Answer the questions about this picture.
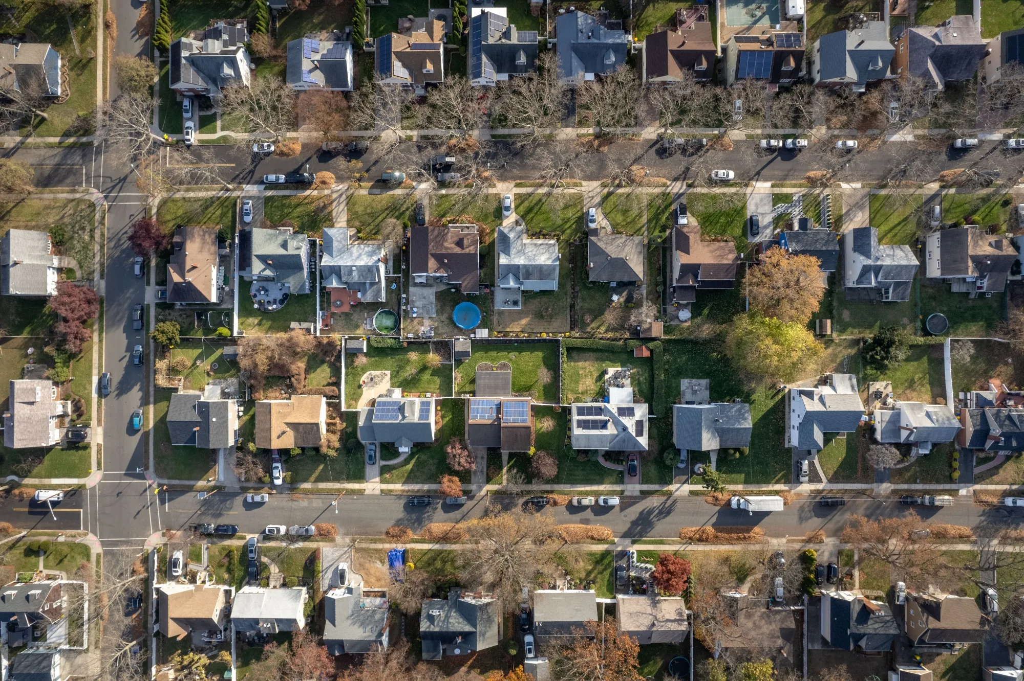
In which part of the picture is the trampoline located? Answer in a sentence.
The trampoline appears toward the right of the photo.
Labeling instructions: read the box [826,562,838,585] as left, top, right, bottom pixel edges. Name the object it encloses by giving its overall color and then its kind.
black vehicle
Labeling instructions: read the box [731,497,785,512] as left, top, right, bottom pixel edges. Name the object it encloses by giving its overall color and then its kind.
white vehicle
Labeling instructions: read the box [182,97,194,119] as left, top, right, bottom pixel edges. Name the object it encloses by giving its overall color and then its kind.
blue vehicle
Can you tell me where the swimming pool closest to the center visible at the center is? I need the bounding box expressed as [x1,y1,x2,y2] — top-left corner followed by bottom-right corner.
[453,301,481,329]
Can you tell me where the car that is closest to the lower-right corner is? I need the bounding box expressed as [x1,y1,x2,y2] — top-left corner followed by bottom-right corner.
[984,588,997,611]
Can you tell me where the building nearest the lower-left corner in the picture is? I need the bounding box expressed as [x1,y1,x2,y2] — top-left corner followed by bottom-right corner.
[7,650,60,681]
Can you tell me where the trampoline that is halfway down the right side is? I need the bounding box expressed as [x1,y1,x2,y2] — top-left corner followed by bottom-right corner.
[927,312,949,334]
